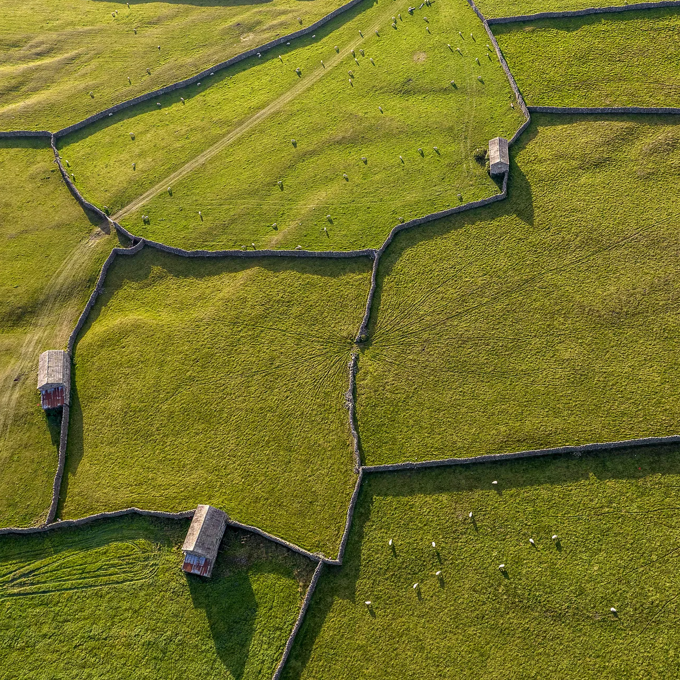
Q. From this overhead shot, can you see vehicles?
No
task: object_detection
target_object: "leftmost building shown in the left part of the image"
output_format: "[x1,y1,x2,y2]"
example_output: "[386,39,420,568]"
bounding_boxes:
[37,348,70,412]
